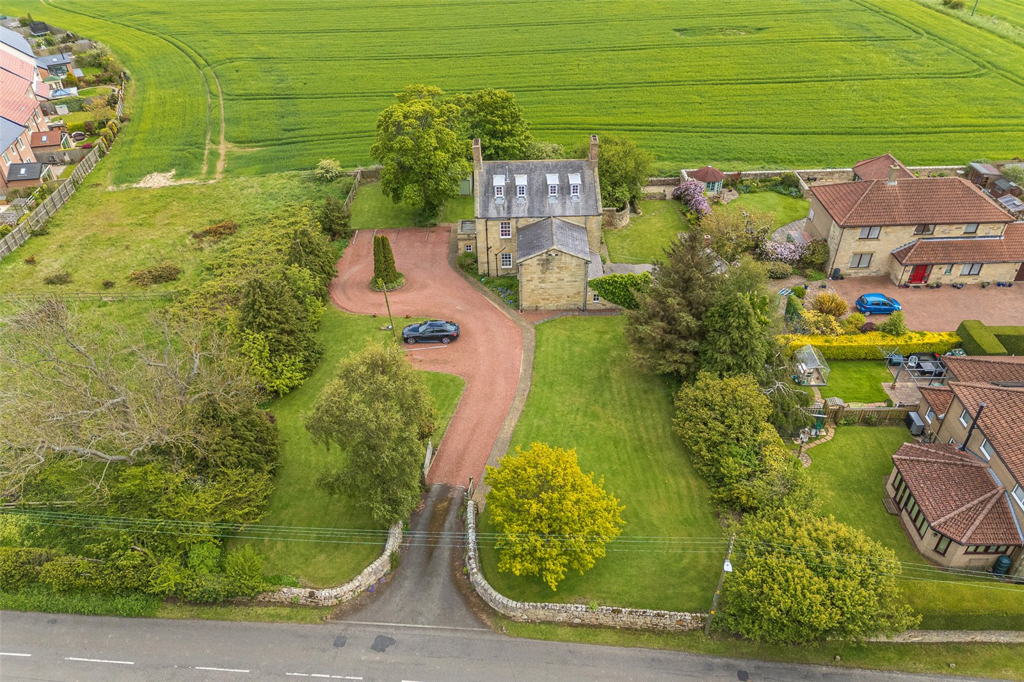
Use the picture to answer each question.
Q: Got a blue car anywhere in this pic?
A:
Yes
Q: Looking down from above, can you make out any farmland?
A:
Yes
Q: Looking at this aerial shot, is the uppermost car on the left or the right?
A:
right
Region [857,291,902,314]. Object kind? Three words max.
car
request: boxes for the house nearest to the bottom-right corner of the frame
[879,351,1024,581]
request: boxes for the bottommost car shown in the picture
[403,320,460,345]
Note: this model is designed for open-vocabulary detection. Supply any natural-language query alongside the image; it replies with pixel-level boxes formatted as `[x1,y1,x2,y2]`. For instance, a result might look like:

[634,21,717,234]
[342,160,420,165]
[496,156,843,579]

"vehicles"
[857,291,902,314]
[403,320,460,345]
